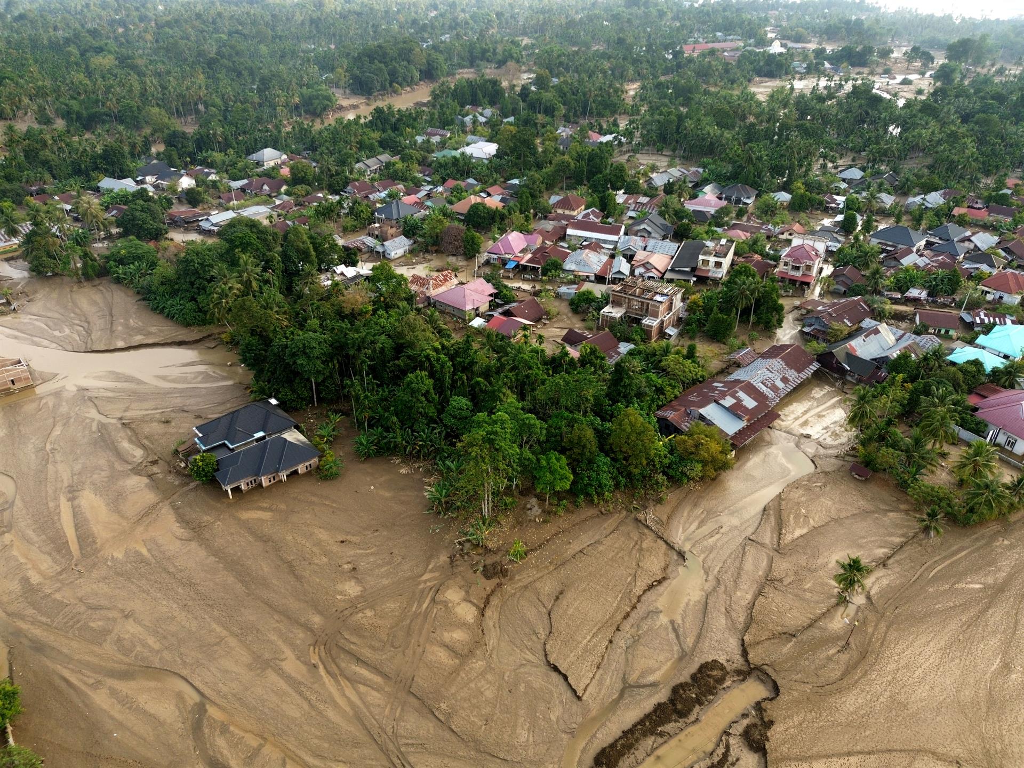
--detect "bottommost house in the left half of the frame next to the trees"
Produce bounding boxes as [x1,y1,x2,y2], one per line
[194,399,318,505]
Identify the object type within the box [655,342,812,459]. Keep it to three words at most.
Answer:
barn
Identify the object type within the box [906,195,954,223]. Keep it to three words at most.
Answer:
house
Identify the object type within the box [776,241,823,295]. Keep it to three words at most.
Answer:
house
